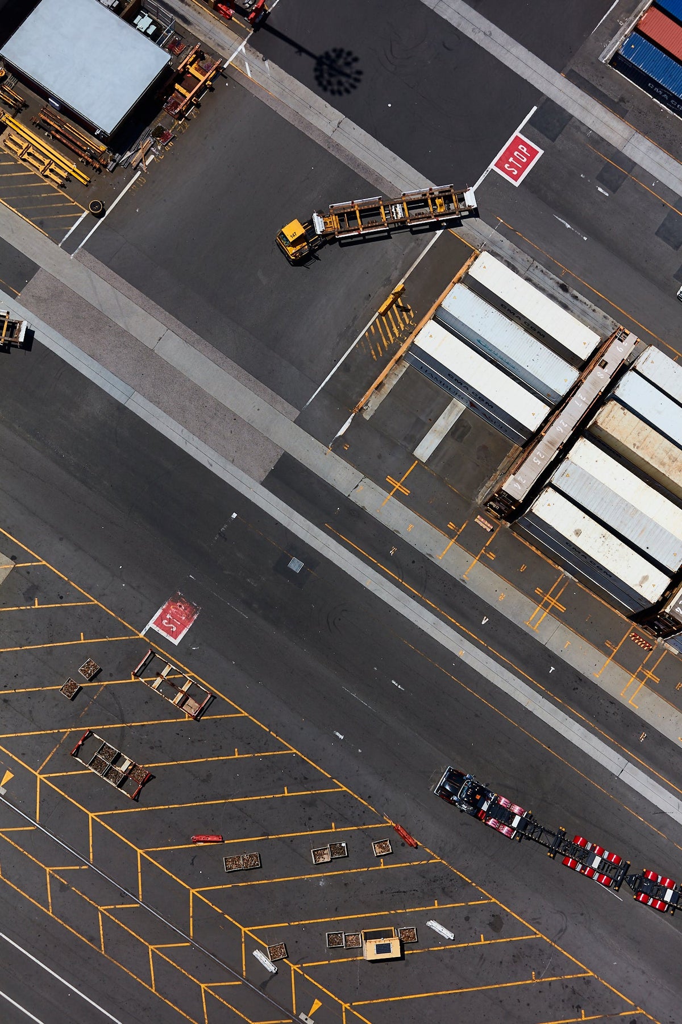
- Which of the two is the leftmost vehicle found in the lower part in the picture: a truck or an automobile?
truck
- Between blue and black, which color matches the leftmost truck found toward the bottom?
black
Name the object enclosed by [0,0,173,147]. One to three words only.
shed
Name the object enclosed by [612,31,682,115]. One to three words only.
shipping container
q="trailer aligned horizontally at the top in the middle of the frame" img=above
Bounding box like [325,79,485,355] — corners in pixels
[310,190,477,241]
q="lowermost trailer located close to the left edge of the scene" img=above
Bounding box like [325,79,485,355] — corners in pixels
[0,308,31,347]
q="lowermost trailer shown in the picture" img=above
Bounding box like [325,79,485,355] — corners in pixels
[626,869,682,913]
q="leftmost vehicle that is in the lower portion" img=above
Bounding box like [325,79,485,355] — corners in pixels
[434,766,527,840]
